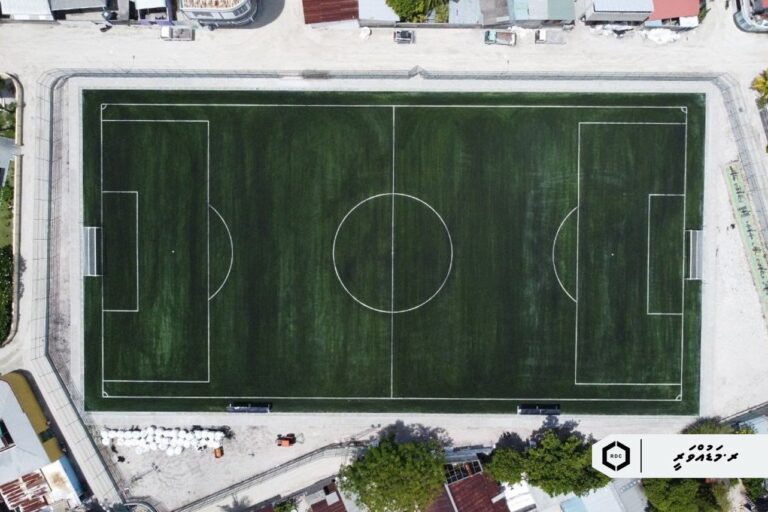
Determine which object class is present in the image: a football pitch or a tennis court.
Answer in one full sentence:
I can see a football pitch in this picture.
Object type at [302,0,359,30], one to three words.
house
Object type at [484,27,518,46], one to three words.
vehicle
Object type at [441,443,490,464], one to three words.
house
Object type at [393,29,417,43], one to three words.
vehicle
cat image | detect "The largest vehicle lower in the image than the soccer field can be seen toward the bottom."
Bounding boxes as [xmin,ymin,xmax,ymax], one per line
[278,434,305,448]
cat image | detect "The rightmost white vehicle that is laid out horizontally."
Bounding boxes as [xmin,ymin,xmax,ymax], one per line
[534,28,568,44]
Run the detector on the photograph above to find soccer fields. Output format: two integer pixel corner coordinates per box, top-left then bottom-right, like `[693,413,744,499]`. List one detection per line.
[81,88,707,418]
